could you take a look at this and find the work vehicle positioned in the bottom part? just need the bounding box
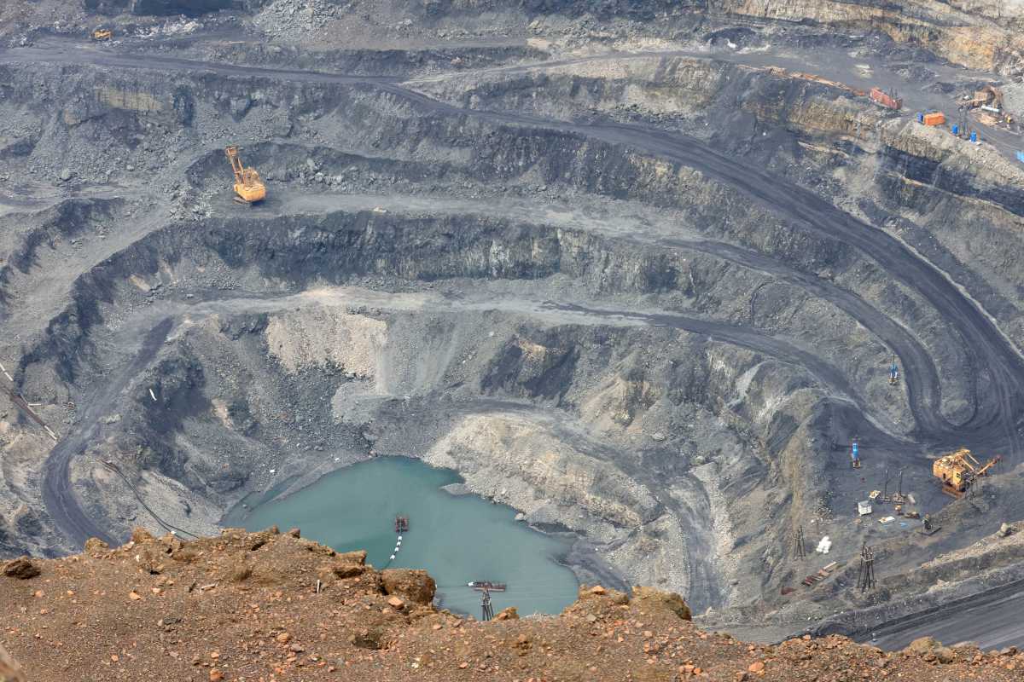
[928,453,1010,496]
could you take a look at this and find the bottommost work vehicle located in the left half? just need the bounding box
[225,134,265,205]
